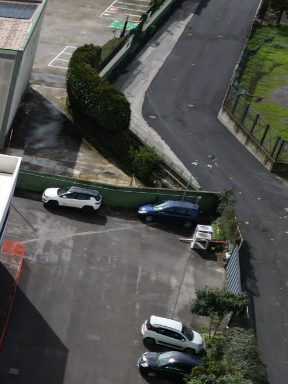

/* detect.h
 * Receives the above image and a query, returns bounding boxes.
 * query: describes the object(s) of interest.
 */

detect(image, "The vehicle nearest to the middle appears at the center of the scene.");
[140,200,204,229]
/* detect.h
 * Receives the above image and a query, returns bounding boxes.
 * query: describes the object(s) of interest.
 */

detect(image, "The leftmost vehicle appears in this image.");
[45,188,104,216]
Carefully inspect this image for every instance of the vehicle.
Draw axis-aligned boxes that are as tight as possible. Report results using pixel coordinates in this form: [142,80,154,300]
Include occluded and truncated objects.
[140,350,213,384]
[140,200,204,229]
[140,313,204,355]
[45,188,104,216]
